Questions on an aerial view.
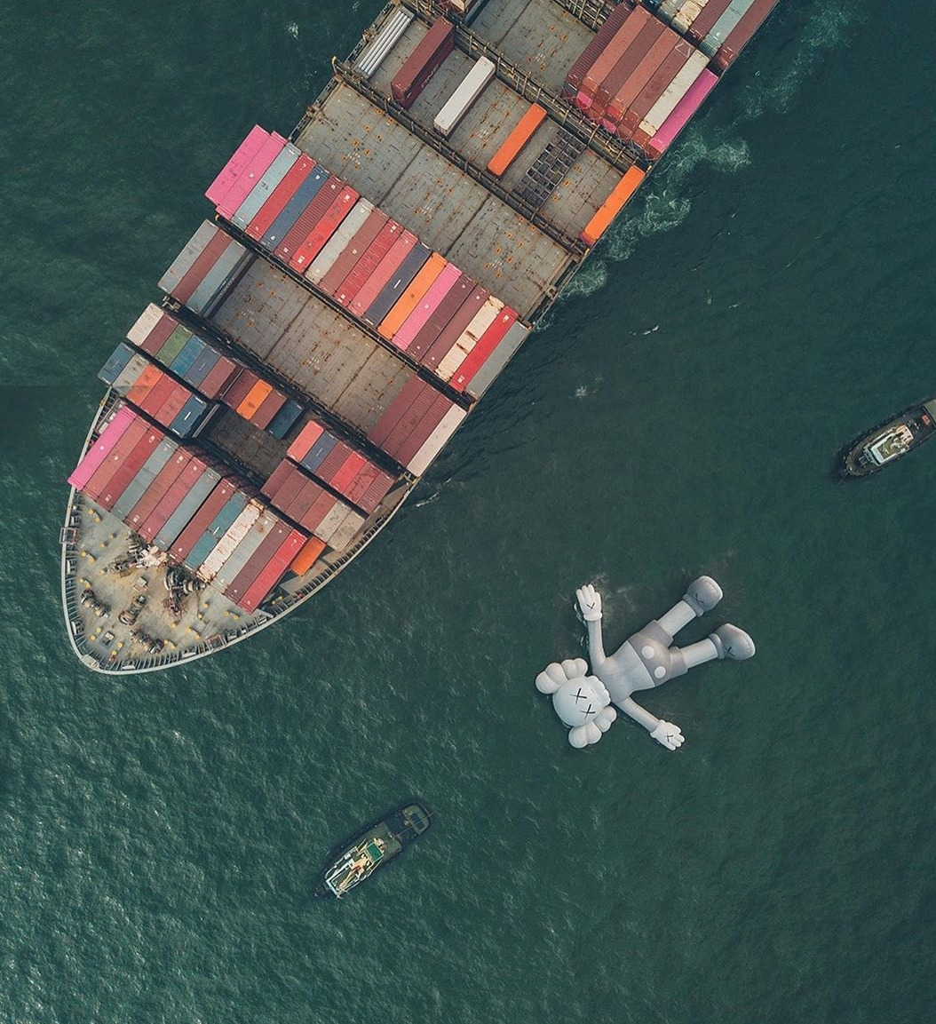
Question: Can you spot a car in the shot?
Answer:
No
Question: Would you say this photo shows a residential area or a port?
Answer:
port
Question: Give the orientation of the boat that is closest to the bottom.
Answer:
on a diagonal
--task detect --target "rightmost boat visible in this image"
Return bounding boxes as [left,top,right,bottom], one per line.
[823,385,936,481]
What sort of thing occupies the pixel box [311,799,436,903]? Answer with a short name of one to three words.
boat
